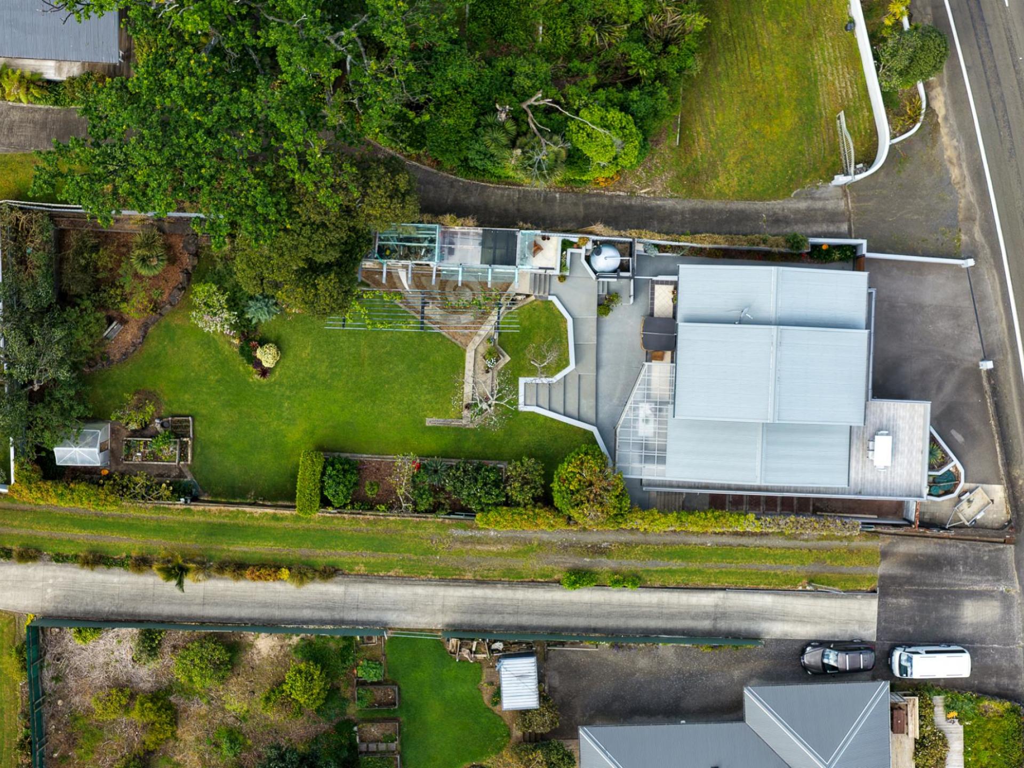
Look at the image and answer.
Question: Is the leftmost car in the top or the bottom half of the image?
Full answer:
Seen from above, the leftmost car lies in the bottom half of the view.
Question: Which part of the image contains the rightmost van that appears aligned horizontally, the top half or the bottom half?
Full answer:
You can find the rightmost van that appears aligned horizontally in the bottom half.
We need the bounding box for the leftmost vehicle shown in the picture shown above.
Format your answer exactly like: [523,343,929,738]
[801,643,877,680]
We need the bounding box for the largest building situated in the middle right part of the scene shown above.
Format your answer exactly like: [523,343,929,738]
[663,263,872,489]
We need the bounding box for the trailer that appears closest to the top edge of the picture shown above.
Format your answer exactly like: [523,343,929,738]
[946,487,996,530]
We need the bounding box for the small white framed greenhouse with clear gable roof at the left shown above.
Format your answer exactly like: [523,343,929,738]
[53,428,111,466]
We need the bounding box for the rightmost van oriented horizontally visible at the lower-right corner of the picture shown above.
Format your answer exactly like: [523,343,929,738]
[893,646,976,686]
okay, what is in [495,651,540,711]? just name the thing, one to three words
shed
